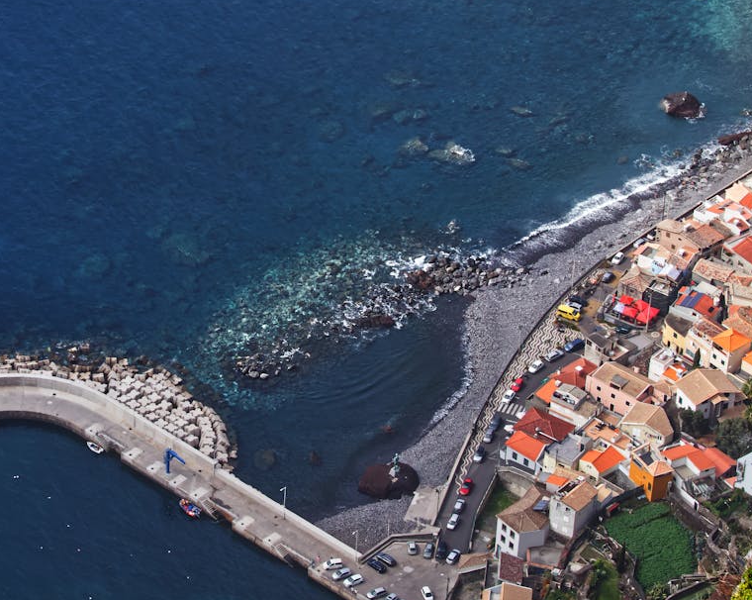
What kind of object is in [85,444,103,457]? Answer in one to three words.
boat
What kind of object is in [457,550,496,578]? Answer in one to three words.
house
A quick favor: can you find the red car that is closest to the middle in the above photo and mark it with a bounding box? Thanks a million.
[511,376,523,391]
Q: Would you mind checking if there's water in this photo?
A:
Yes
